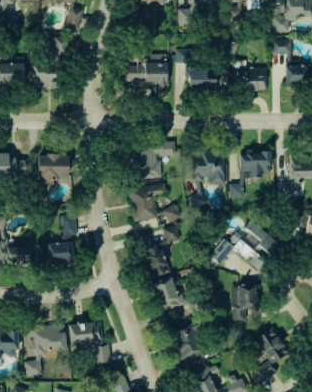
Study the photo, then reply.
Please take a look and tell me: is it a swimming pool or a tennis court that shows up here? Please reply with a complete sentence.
The one in the frame is a swimming pool.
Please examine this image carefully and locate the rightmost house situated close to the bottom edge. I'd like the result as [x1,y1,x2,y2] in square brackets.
[256,327,286,378]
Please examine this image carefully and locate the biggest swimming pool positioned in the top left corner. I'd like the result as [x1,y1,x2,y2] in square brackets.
[44,8,64,27]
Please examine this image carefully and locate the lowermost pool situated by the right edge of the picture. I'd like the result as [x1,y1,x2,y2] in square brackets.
[291,38,312,60]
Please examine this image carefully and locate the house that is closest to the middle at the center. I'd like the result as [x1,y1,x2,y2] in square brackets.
[129,180,180,222]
